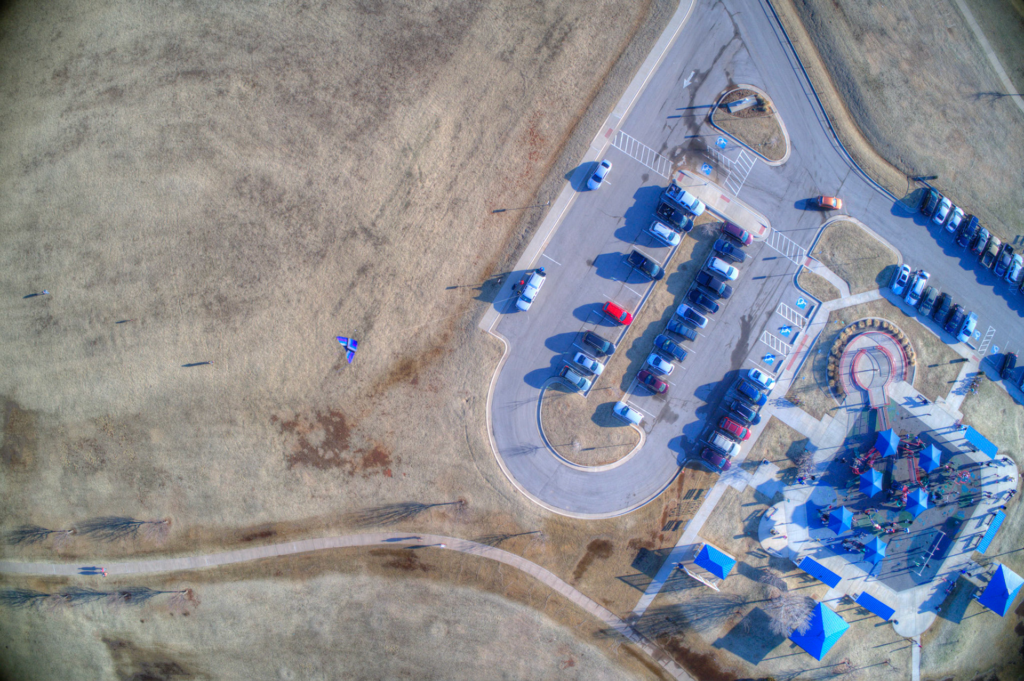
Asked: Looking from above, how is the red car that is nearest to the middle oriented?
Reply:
diagonally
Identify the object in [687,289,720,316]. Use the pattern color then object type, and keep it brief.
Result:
blue car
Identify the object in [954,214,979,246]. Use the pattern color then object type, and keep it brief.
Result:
blue car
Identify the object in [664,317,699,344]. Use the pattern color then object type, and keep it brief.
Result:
blue truck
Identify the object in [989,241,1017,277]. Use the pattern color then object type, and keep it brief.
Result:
blue truck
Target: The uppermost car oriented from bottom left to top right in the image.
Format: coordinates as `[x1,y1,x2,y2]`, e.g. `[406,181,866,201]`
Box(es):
[587,158,613,191]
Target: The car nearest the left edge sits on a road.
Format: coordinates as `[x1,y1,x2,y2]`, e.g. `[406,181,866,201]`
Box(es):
[517,268,547,309]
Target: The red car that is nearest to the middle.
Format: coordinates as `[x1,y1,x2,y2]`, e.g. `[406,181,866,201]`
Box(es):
[601,300,633,327]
